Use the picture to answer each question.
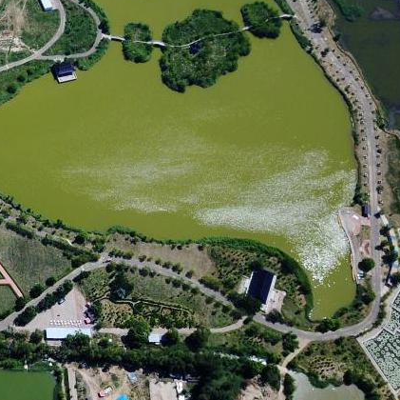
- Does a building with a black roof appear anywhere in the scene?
Yes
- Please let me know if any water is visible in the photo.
Yes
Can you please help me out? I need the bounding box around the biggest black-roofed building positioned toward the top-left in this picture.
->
[55,59,80,85]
